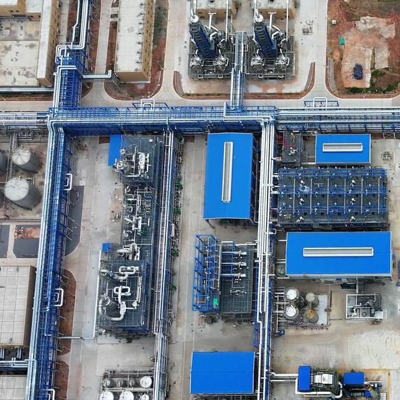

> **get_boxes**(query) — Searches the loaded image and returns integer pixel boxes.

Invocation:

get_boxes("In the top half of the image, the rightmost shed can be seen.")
[315,134,372,168]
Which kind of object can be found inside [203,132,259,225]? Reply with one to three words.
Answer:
shed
